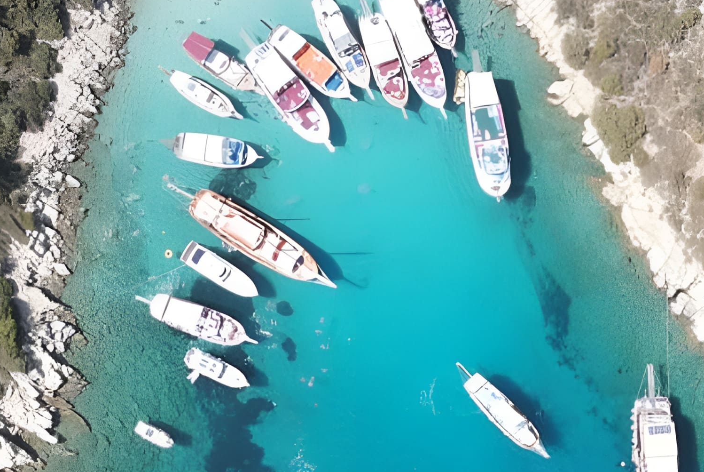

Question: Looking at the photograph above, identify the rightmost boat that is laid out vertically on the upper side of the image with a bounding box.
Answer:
[466,49,512,202]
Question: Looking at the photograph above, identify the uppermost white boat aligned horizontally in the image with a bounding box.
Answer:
[159,133,264,168]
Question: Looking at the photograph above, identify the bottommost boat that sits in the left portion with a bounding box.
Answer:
[133,420,173,446]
